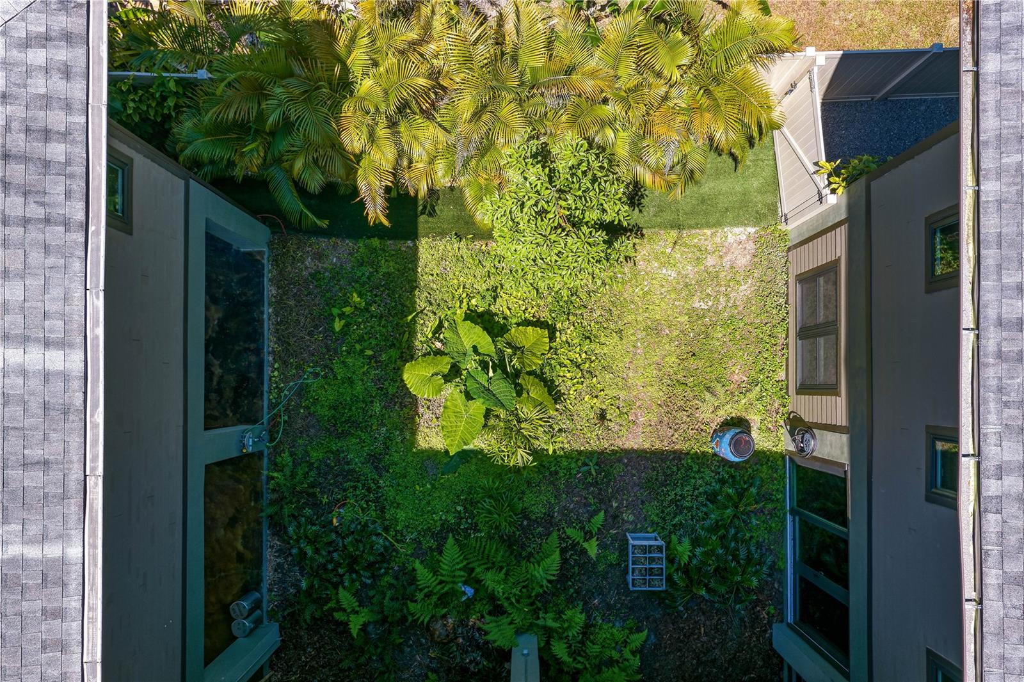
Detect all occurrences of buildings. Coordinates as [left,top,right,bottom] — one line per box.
[0,0,279,682]
[776,0,1024,682]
